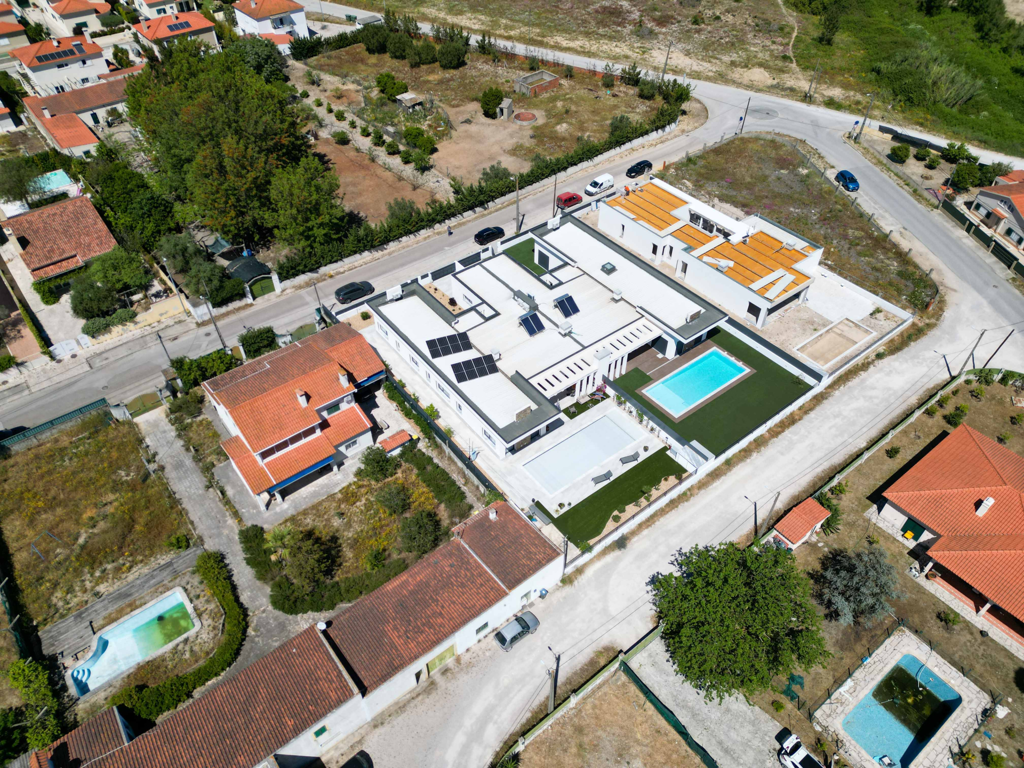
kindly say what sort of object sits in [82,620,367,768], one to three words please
barn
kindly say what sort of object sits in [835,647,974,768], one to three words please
swimming pool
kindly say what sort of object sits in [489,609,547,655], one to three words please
car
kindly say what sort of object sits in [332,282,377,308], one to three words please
car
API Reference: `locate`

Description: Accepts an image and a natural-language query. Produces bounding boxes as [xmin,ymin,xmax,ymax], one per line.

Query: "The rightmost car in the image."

[834,171,861,193]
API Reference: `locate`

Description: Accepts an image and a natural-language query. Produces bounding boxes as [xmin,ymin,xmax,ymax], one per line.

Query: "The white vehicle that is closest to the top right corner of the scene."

[585,171,615,196]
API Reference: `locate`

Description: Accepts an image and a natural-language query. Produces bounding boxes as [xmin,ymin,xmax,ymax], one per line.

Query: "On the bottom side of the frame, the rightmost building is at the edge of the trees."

[882,421,1024,647]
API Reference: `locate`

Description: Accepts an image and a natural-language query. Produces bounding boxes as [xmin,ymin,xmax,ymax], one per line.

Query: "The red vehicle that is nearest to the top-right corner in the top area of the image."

[556,189,584,211]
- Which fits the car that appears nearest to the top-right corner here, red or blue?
blue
